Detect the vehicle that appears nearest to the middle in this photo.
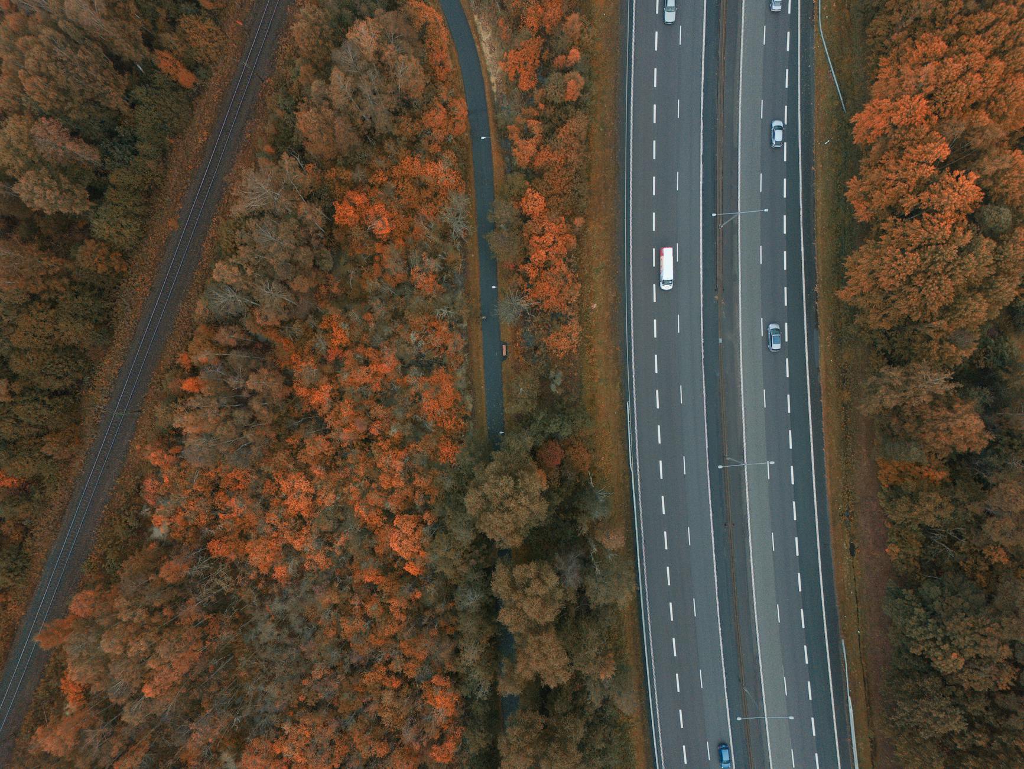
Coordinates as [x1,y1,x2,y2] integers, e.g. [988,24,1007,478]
[659,245,675,289]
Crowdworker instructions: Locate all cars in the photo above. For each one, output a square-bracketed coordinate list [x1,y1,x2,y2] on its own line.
[663,0,676,24]
[771,120,785,148]
[719,744,733,769]
[768,324,782,352]
[770,0,782,12]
